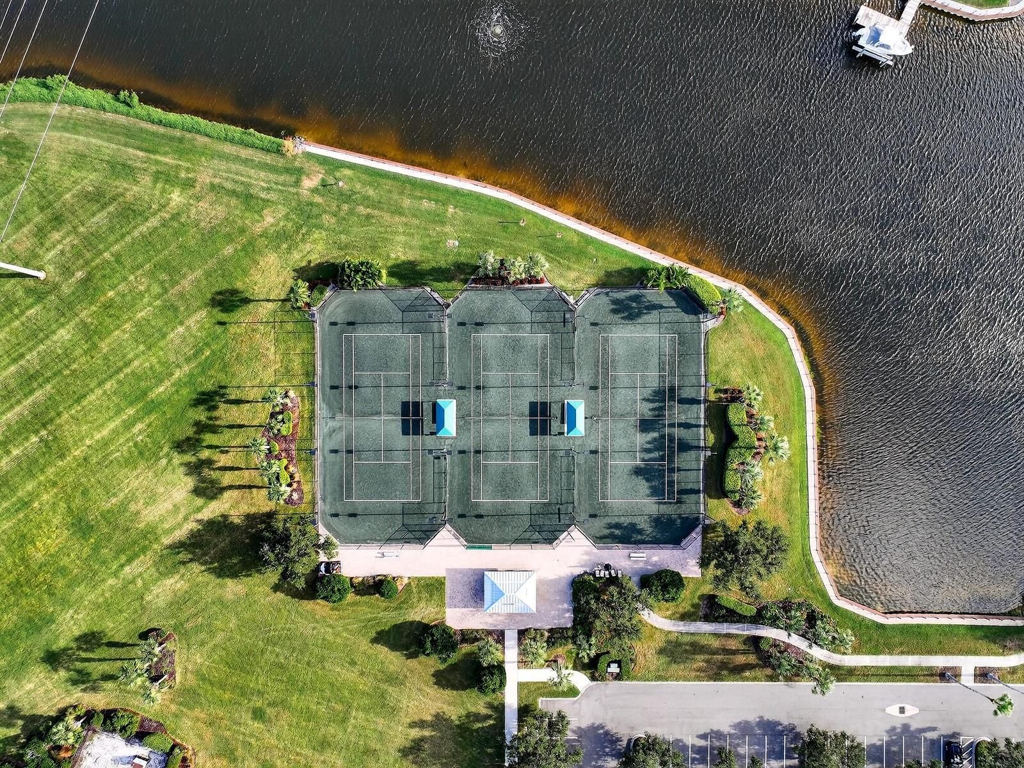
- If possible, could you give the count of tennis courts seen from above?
3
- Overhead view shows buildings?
Yes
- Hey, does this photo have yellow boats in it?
No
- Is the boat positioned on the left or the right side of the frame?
right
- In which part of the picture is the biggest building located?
bottom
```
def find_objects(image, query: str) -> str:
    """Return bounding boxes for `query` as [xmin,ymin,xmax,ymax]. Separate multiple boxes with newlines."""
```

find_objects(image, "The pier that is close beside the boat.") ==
[850,0,923,31]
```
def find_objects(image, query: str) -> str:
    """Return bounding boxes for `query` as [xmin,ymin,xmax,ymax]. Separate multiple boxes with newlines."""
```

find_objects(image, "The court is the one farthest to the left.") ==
[317,289,447,545]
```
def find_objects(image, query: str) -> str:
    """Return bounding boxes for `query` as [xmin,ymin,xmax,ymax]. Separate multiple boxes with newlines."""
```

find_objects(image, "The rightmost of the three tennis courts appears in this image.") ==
[575,289,703,545]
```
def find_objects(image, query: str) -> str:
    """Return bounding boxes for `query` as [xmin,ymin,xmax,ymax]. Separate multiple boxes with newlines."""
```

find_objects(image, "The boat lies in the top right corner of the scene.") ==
[856,23,915,54]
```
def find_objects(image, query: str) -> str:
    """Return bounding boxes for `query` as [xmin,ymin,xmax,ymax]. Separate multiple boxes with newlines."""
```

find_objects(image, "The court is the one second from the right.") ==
[446,289,575,545]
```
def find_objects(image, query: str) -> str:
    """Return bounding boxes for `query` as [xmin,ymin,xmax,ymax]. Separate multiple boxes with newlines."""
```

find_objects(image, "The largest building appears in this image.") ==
[484,568,537,614]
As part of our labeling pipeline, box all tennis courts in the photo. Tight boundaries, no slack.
[446,289,575,545]
[575,289,703,545]
[317,289,447,545]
